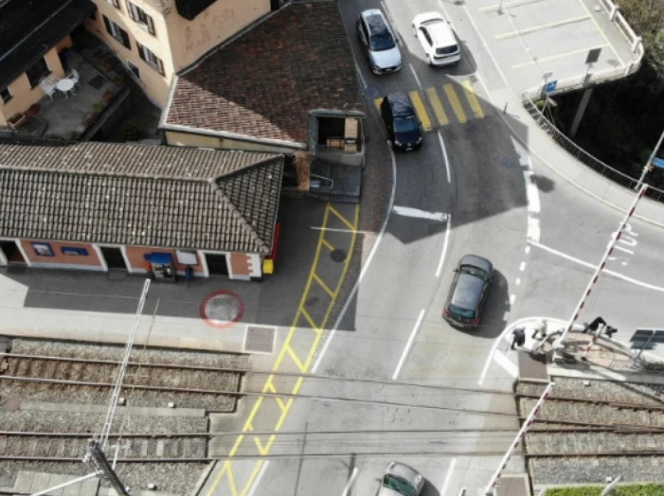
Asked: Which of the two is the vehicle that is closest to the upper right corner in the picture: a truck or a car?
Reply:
car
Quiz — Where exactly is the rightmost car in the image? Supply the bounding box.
[444,249,499,330]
